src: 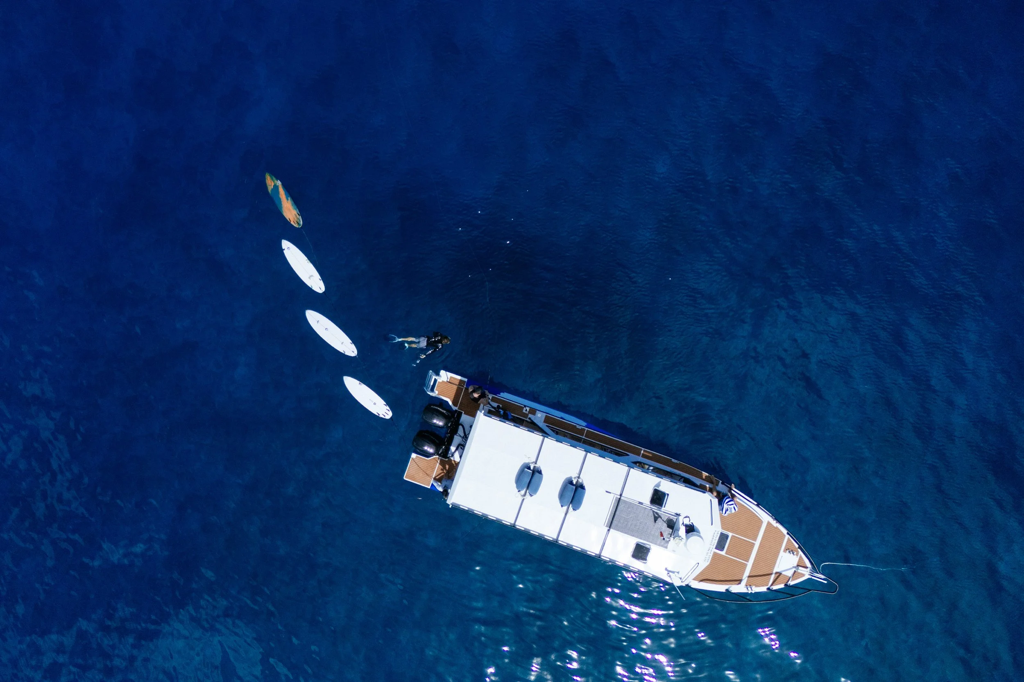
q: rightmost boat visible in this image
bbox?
[404,370,839,602]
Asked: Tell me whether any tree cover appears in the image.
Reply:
No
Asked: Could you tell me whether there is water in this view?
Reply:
Yes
